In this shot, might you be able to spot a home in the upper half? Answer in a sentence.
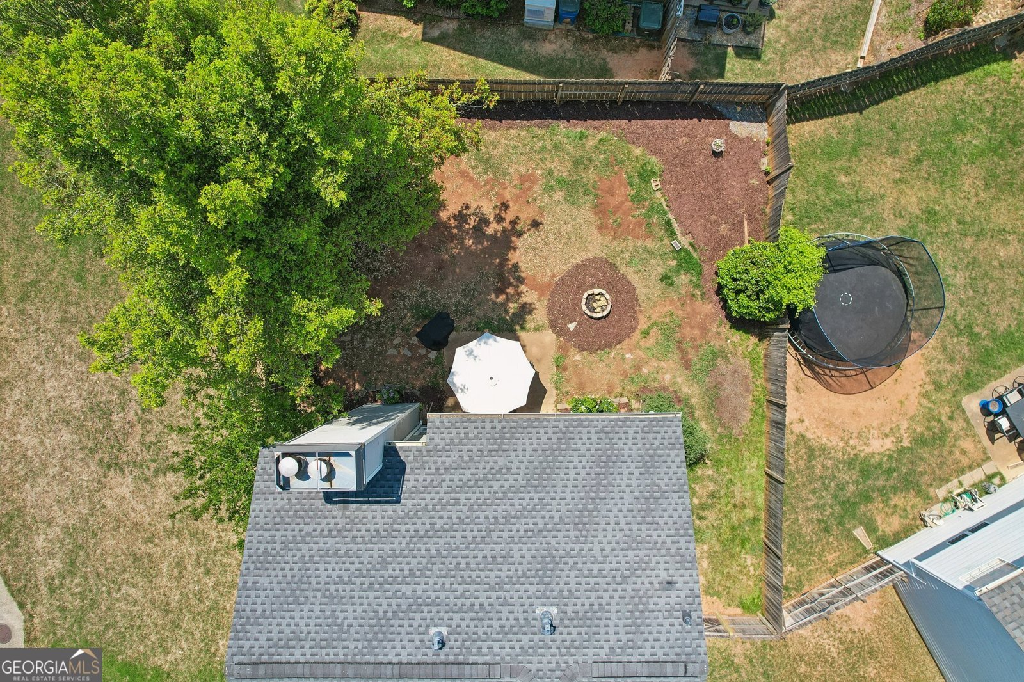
No, I see no home in the upper half.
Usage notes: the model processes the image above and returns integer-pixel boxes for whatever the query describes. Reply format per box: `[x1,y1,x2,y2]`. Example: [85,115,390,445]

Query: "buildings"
[226,406,707,682]
[877,475,1024,682]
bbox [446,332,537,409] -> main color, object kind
white umbrella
